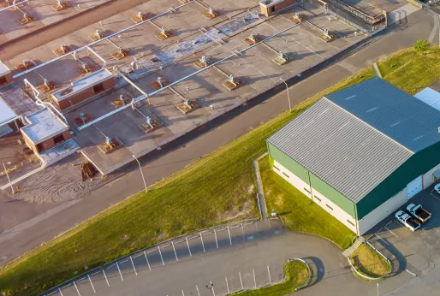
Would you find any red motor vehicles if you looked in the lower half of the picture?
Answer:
No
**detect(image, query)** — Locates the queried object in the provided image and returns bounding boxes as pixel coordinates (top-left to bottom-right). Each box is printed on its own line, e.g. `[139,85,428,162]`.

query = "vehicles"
[406,201,433,224]
[395,209,422,232]
[433,183,440,194]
